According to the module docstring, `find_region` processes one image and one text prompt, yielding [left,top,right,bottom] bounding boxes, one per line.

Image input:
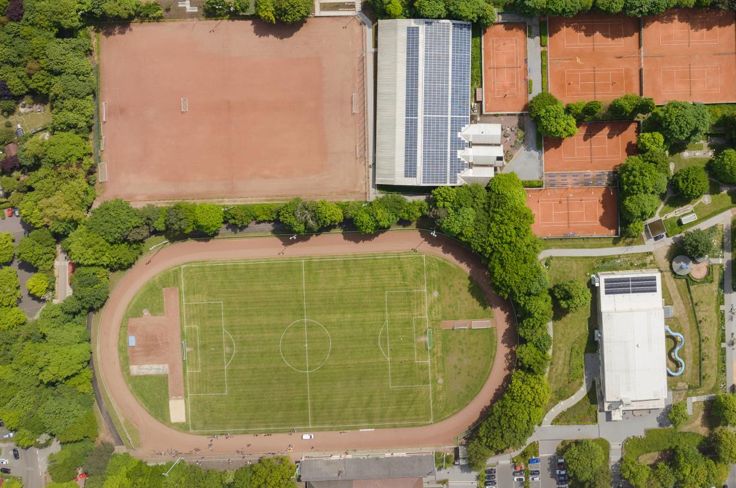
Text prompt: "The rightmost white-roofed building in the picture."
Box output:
[589,266,672,421]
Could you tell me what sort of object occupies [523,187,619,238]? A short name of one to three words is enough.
tennis court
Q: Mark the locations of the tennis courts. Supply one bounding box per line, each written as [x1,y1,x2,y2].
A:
[643,55,736,105]
[547,15,641,62]
[643,10,736,57]
[483,22,528,113]
[542,120,641,172]
[549,60,642,104]
[523,187,619,238]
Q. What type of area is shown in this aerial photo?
sports ground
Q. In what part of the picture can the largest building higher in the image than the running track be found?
top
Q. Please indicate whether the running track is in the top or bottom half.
bottom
